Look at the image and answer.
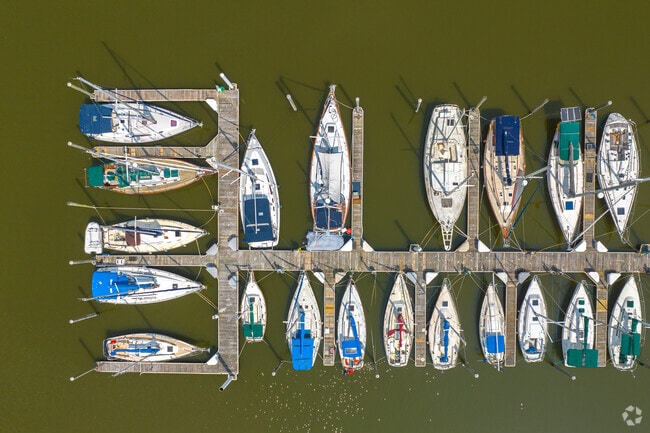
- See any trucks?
No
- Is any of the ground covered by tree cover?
No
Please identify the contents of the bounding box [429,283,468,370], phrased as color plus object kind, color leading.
white boat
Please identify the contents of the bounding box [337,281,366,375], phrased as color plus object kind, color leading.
white boat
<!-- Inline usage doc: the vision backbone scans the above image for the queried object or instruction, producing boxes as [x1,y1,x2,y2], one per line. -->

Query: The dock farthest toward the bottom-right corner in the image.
[595,272,608,368]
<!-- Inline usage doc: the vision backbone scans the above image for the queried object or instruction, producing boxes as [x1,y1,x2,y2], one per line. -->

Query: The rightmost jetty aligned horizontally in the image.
[239,250,650,272]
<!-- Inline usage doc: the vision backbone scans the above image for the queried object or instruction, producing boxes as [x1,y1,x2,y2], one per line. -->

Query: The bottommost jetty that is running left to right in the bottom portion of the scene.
[96,361,217,374]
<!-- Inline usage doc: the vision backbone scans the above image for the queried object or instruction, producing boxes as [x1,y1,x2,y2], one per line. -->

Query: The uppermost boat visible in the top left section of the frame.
[71,75,201,142]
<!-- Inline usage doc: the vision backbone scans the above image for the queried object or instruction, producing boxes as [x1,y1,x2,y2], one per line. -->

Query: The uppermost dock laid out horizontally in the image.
[95,89,217,102]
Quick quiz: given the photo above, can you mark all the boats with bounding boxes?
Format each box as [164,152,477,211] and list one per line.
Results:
[479,272,508,371]
[85,223,102,250]
[95,218,206,253]
[337,281,366,375]
[309,85,350,231]
[383,275,415,366]
[71,75,201,142]
[281,273,321,370]
[79,150,219,192]
[550,109,650,248]
[517,276,592,363]
[103,334,209,377]
[560,282,650,369]
[429,283,468,370]
[211,129,278,248]
[304,230,347,251]
[485,115,553,247]
[228,272,267,346]
[425,103,475,250]
[74,266,206,304]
